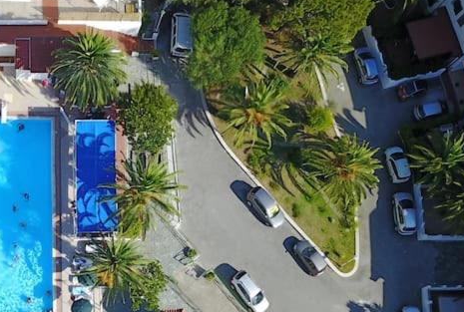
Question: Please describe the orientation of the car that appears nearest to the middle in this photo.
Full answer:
In this picture, the car that appears nearest to the middle is oriented diagonally.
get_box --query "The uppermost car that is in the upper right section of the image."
[353,47,380,87]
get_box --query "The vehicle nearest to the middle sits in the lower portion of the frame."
[245,184,285,230]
